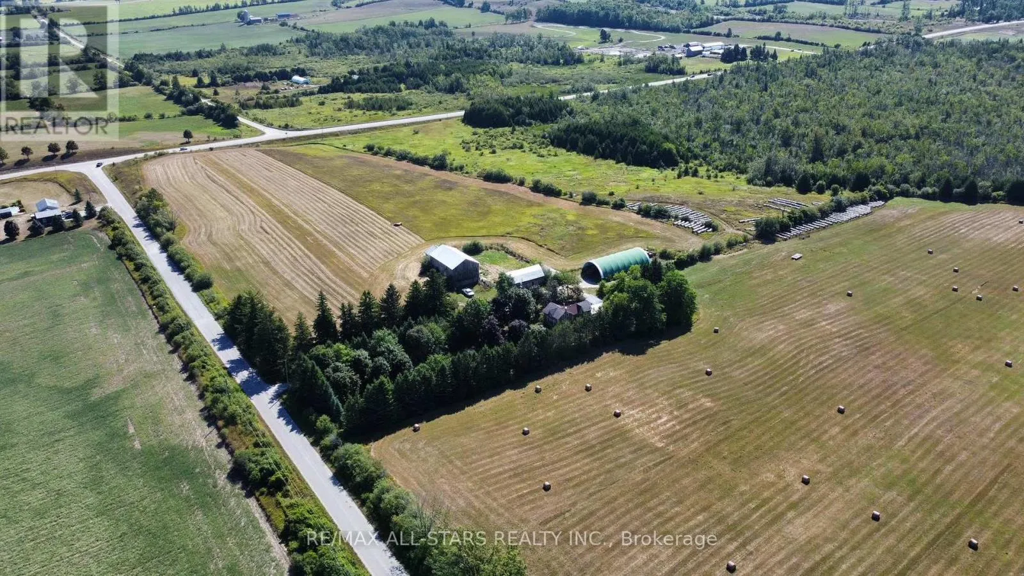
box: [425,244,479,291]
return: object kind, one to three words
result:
barn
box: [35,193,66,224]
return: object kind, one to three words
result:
house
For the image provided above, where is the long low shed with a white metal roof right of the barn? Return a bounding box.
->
[503,265,546,291]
